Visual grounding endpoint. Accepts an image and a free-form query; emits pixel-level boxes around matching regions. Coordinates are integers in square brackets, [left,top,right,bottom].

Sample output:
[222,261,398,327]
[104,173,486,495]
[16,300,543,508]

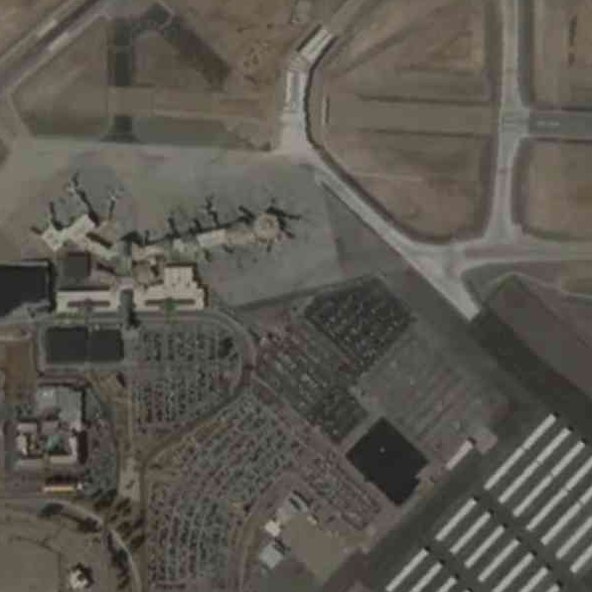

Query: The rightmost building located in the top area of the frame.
[255,216,278,238]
